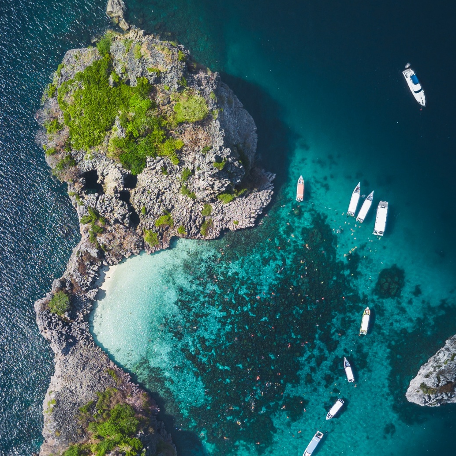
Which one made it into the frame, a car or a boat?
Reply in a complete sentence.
It is a boat that can be seen here.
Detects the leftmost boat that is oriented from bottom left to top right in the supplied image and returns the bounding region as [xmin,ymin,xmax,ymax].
[305,432,324,456]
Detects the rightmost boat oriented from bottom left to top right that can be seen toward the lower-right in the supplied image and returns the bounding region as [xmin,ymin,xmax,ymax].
[327,398,344,420]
